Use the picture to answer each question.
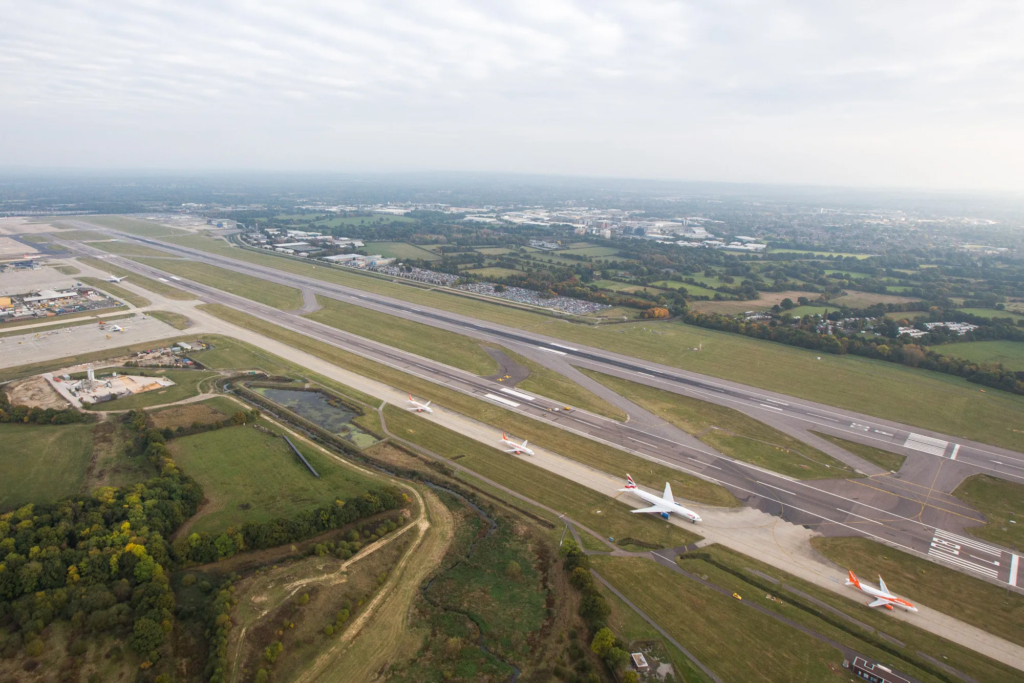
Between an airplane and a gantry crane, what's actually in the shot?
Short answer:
airplane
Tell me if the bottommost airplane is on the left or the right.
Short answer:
right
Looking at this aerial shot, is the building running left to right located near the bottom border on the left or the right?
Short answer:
right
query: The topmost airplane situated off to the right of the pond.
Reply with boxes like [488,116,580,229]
[402,391,431,409]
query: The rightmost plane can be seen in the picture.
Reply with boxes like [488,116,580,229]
[844,569,918,611]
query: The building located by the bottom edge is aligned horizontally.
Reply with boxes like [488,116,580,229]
[845,651,918,683]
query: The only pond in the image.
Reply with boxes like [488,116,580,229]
[251,387,377,447]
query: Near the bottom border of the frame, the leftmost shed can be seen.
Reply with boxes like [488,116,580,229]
[626,648,649,671]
